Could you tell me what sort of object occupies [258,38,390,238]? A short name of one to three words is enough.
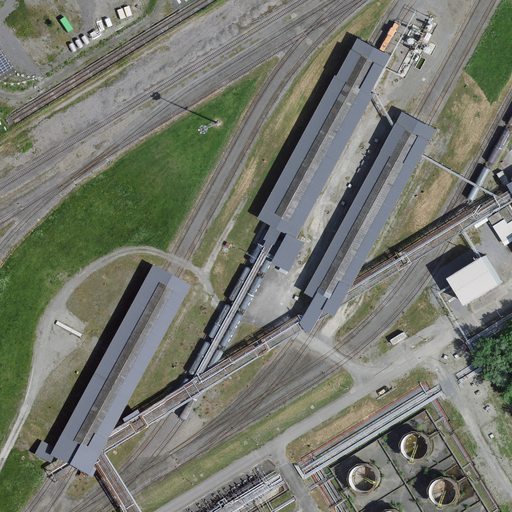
shed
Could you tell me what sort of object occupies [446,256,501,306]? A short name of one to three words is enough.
building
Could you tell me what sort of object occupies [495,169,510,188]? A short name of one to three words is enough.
vehicle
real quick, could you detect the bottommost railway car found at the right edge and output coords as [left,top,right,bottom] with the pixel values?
[469,166,492,202]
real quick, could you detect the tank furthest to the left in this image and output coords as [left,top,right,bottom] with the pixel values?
[348,462,381,494]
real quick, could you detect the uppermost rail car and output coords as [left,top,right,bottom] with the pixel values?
[380,22,400,50]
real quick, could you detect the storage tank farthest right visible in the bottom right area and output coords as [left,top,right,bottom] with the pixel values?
[428,476,460,508]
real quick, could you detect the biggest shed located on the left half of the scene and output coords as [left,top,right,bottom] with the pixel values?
[52,264,194,478]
